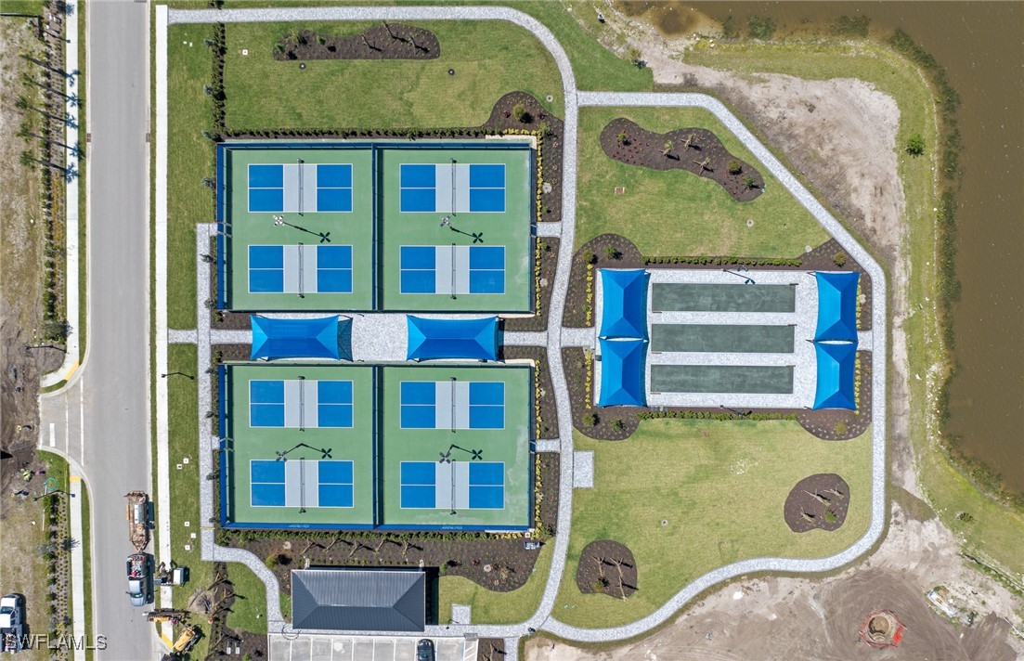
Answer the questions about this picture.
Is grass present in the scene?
Yes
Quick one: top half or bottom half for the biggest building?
bottom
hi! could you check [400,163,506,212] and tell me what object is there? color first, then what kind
blue sports court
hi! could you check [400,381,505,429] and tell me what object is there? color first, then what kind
blue sports court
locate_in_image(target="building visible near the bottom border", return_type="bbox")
[291,567,426,632]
